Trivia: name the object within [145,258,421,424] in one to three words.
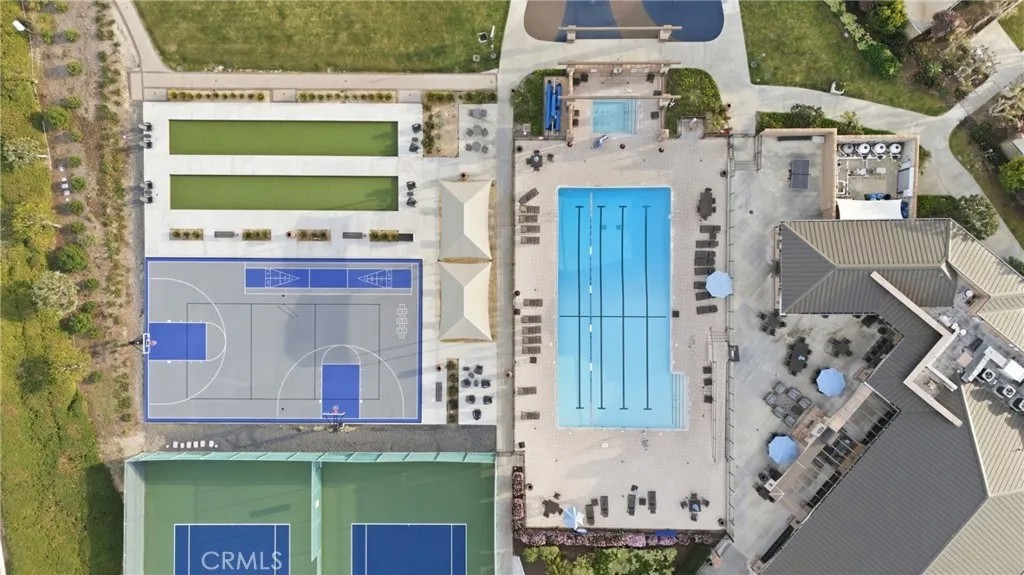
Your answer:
basketball court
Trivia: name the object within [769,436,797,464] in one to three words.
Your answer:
umbrella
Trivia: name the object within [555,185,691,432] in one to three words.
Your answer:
swimming pool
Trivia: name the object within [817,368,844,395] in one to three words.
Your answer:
umbrella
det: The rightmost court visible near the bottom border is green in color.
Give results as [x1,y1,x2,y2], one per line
[319,462,493,575]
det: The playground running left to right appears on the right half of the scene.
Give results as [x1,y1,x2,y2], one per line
[524,0,724,41]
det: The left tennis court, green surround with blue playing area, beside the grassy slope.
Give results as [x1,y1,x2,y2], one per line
[144,453,319,575]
